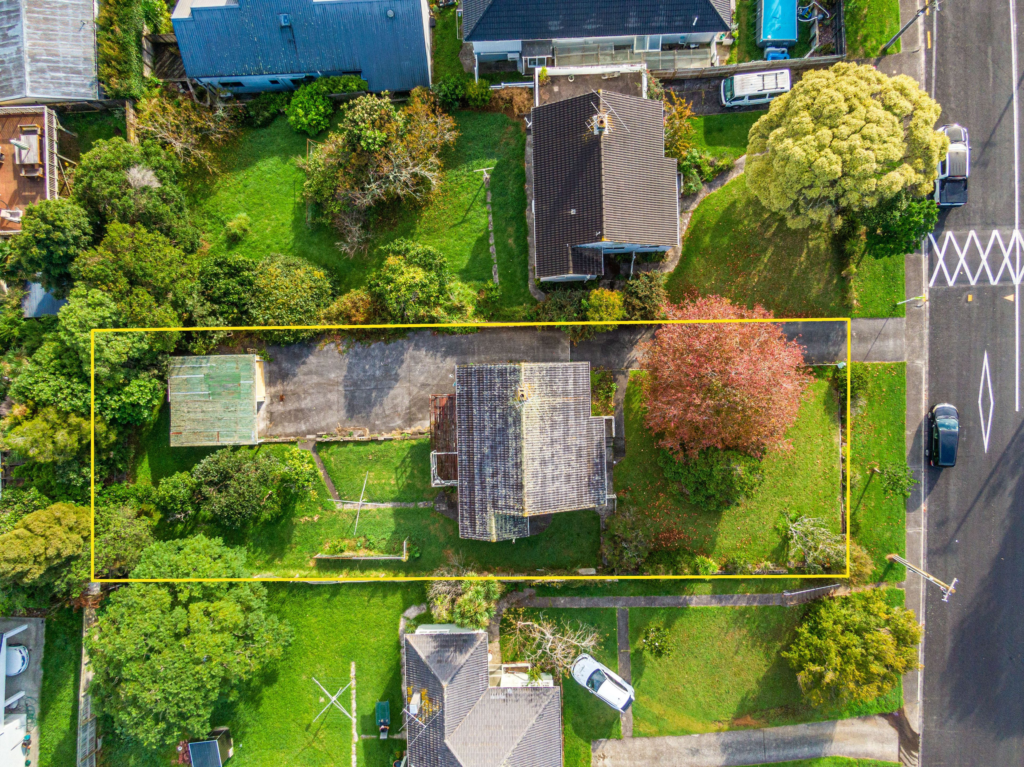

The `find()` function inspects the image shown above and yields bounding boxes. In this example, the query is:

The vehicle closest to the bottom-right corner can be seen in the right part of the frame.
[923,402,963,469]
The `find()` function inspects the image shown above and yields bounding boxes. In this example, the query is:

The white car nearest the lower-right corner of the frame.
[574,655,643,721]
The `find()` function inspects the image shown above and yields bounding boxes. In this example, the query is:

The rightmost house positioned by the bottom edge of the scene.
[403,626,563,767]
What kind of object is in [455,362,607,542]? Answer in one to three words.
house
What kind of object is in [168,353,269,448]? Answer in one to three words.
building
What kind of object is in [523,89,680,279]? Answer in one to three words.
house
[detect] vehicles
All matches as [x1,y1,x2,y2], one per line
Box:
[932,125,974,207]
[7,647,22,678]
[923,402,963,469]
[722,68,800,110]
[574,655,643,721]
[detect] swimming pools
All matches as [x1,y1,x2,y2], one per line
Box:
[747,0,798,56]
